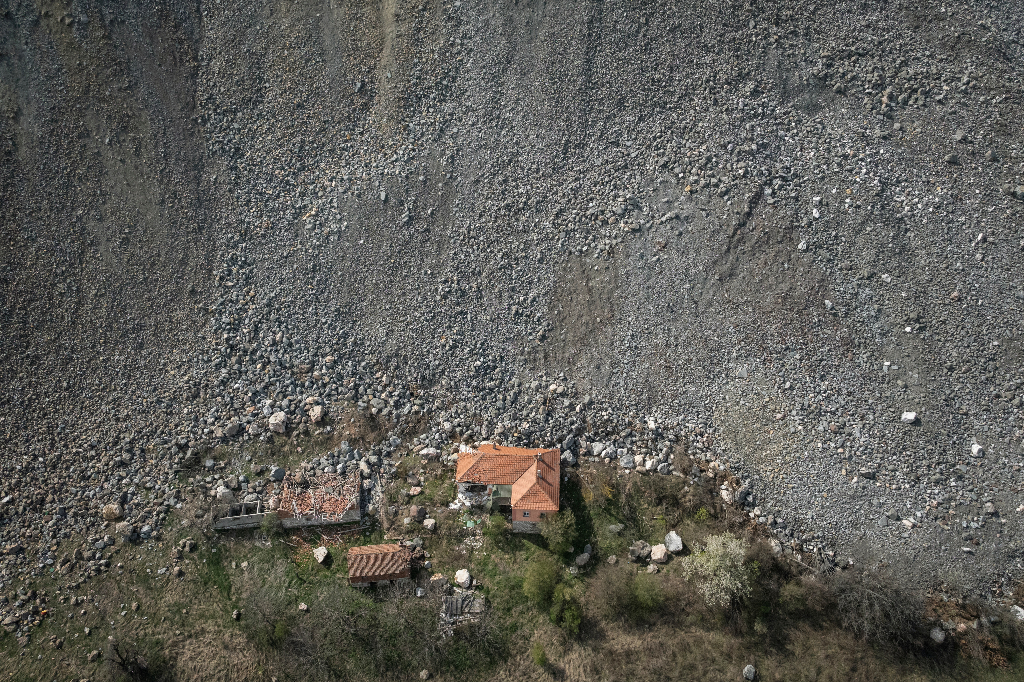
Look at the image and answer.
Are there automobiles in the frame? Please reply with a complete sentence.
No, the photo shows no automobile.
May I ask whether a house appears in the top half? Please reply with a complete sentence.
No, I can find no house in the top half.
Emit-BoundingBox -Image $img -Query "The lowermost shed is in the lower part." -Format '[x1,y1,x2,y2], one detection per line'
[436,596,483,639]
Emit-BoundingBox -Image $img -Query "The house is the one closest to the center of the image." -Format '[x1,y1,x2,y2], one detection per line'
[453,443,564,534]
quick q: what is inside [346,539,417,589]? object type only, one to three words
barn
